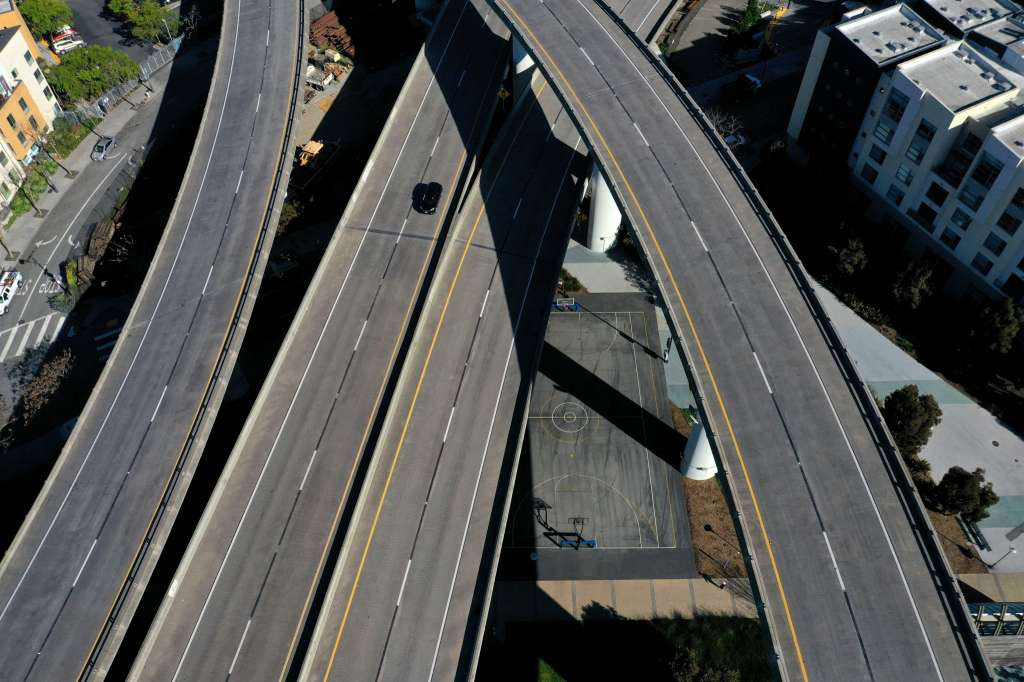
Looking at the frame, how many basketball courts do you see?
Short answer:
1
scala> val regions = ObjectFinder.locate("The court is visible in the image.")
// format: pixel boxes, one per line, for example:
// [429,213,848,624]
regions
[495,293,697,578]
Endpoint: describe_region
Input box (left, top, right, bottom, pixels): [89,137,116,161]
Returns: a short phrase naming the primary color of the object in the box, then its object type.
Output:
gray car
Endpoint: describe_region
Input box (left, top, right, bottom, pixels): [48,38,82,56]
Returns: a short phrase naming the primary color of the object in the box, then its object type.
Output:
white car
